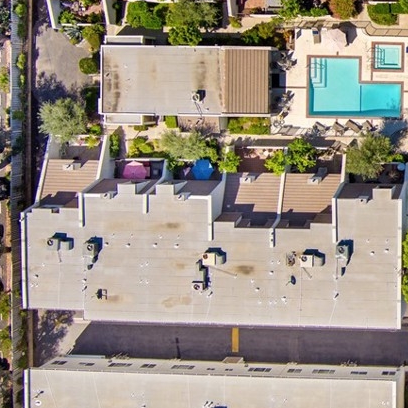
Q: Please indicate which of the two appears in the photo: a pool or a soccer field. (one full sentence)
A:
It is a pool that can be seen here.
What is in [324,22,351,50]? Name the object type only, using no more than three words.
umbrella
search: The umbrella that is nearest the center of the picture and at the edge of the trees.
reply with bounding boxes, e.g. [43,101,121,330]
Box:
[193,158,216,178]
